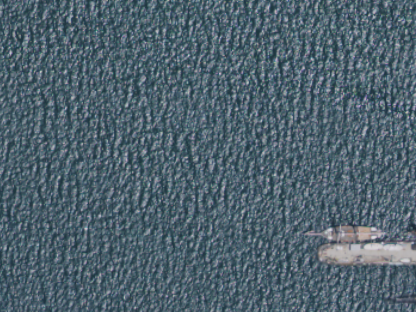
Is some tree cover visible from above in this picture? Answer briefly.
No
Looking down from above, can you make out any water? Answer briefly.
Yes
